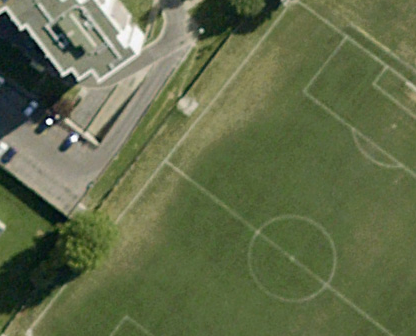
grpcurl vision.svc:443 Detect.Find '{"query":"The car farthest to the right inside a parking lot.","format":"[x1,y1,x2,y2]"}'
[60,134,77,152]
